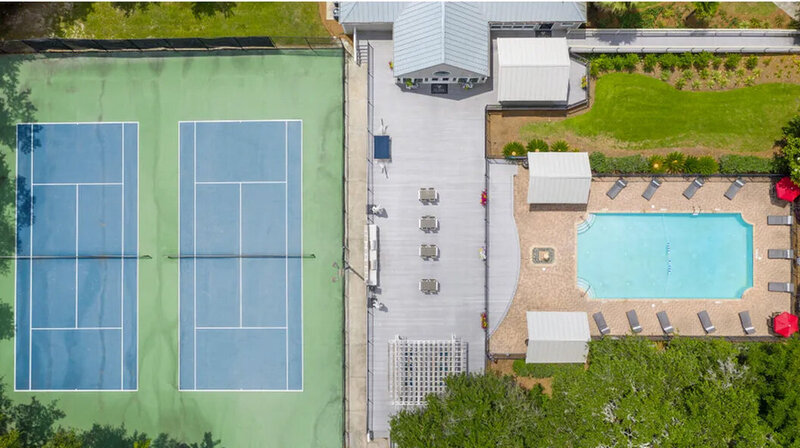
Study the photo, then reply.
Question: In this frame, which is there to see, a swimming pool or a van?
swimming pool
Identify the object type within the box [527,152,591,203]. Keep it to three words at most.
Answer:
building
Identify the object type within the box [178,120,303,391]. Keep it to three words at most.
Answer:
tennis court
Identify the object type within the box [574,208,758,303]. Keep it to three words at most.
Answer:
swimming pool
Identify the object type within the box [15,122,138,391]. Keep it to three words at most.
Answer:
tennis court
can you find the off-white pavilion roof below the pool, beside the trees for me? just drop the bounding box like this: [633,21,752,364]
[526,311,592,363]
